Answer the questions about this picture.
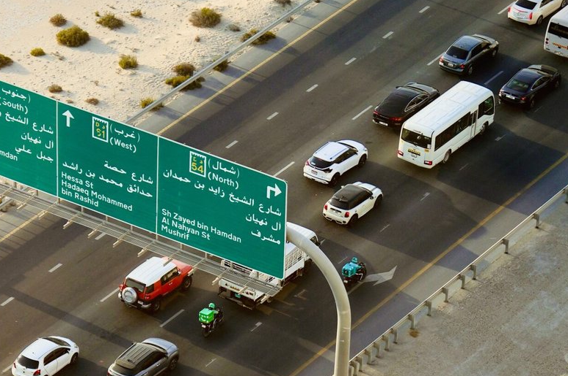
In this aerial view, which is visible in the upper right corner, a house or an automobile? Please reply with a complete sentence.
Visible in the upper right corner is an automobile.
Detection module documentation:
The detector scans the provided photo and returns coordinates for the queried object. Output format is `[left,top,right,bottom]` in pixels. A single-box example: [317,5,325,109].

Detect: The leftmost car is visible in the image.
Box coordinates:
[11,335,80,376]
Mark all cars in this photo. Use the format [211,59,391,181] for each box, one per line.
[112,255,196,313]
[496,63,562,111]
[323,178,385,223]
[11,335,80,376]
[439,33,499,77]
[377,88,440,136]
[302,139,368,186]
[105,338,181,376]
[506,0,565,26]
